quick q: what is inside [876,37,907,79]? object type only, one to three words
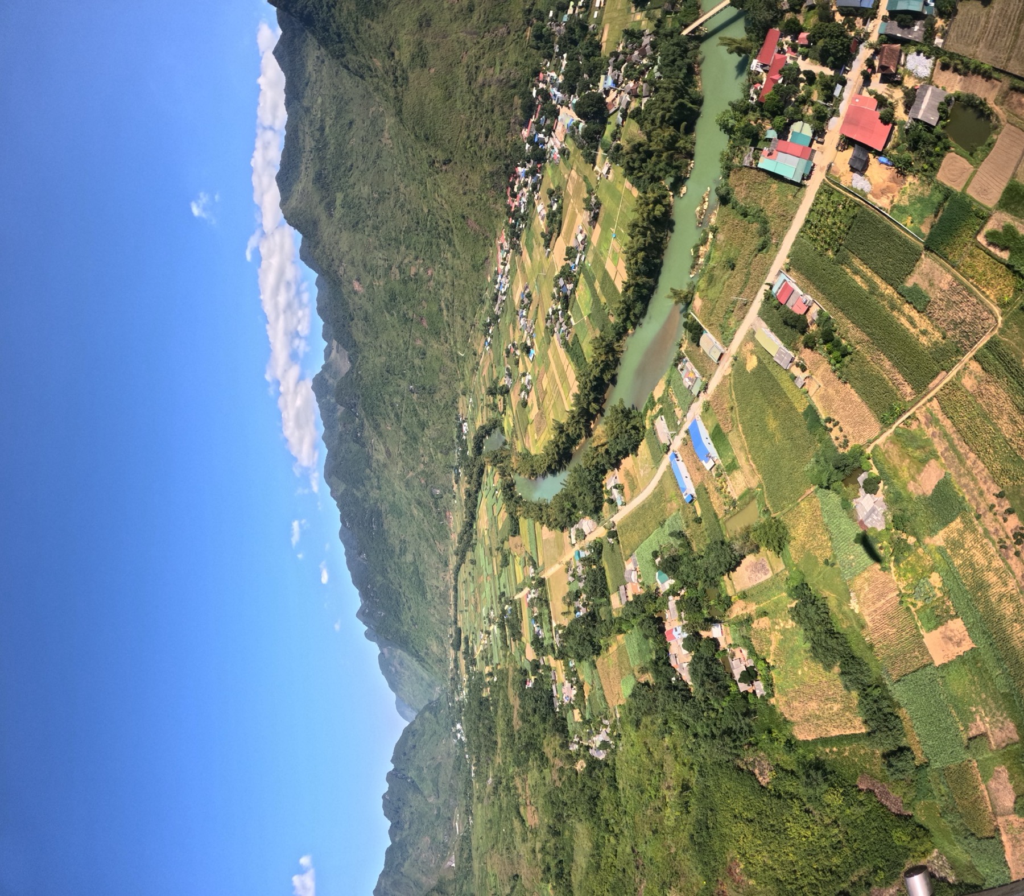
house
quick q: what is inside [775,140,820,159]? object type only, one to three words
house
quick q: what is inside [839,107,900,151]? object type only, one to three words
building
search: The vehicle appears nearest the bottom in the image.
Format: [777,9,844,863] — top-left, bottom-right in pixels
[812,130,826,148]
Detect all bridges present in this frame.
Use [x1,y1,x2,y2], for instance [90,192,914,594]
[683,0,735,34]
